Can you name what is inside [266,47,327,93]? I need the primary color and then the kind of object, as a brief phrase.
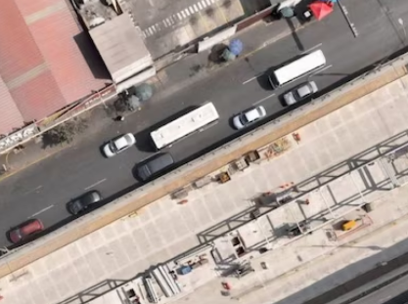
white bus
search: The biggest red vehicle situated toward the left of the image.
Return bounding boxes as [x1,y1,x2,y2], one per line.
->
[6,216,45,244]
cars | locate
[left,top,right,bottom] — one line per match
[134,152,174,181]
[64,188,102,214]
[6,216,45,244]
[101,132,137,158]
[280,81,318,107]
[230,104,267,131]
